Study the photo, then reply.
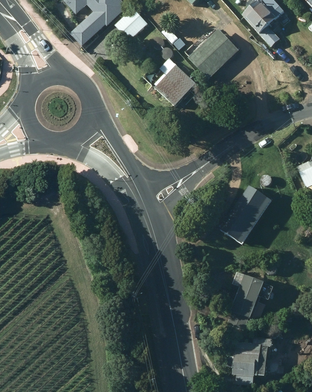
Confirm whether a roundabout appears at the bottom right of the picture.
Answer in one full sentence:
No, no roundabout appears at the bottom right of the picture.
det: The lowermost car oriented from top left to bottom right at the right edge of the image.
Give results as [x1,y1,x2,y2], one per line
[290,64,305,79]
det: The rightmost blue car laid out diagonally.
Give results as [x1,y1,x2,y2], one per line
[275,48,292,62]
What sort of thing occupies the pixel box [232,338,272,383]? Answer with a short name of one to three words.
house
